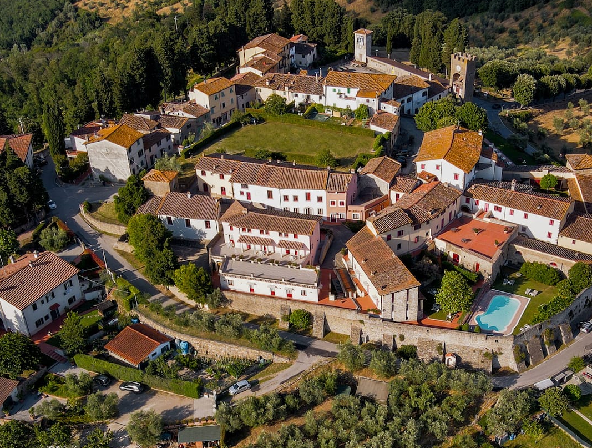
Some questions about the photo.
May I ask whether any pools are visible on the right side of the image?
Yes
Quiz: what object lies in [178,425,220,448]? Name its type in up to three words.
shed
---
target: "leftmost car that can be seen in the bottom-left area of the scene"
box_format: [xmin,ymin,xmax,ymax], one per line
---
[89,369,113,386]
